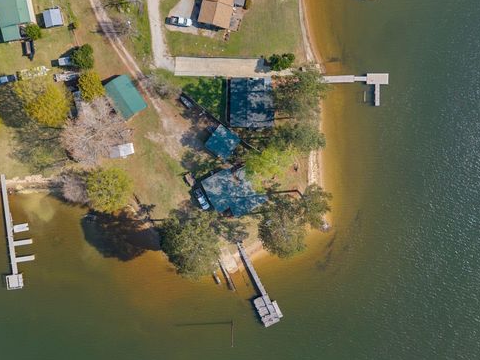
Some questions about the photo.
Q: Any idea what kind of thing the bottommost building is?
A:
home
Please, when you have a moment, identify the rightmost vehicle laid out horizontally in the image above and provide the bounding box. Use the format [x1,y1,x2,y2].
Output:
[165,16,194,28]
